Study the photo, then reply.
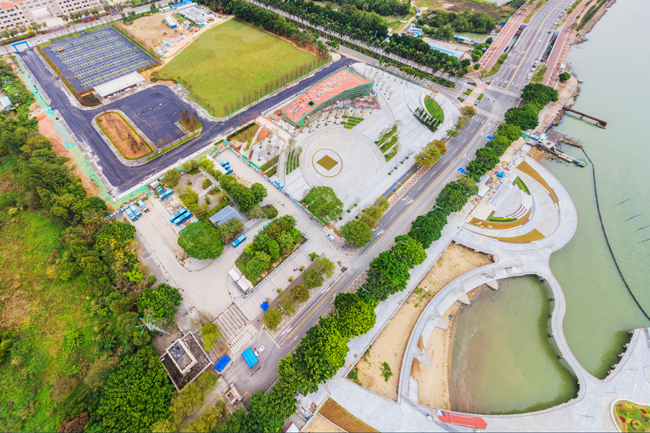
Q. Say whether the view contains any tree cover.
Yes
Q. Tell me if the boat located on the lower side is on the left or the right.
right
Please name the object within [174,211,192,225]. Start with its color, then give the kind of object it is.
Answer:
blue vehicle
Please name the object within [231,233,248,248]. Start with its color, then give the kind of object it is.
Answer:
blue vehicle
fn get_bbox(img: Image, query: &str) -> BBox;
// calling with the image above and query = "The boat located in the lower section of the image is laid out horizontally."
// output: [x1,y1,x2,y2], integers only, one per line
[438,409,489,430]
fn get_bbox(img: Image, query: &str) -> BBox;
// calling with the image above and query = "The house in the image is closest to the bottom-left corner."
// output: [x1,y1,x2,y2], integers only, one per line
[157,330,209,385]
